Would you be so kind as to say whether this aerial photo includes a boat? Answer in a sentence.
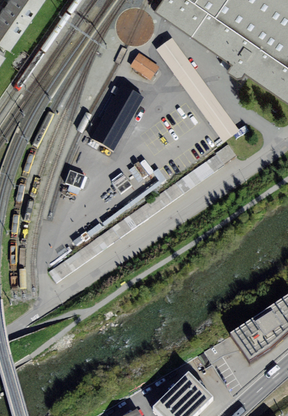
No, I can't see a single boat in this photo.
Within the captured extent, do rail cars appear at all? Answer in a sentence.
Yes, I can see a rail car in this picture.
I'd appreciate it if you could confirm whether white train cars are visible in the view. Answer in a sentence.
Yes, the picture does show a white train car.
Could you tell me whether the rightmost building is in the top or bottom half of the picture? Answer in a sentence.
You can find the rightmost building in the bottom half.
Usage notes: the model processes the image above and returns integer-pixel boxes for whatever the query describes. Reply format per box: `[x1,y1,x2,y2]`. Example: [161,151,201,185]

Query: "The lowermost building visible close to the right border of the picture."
[230,294,288,362]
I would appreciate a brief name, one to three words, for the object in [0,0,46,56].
house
